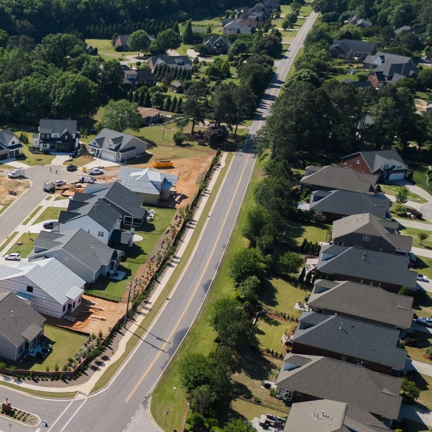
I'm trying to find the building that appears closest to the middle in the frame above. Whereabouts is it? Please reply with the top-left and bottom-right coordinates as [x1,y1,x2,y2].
[128,179,206,214]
